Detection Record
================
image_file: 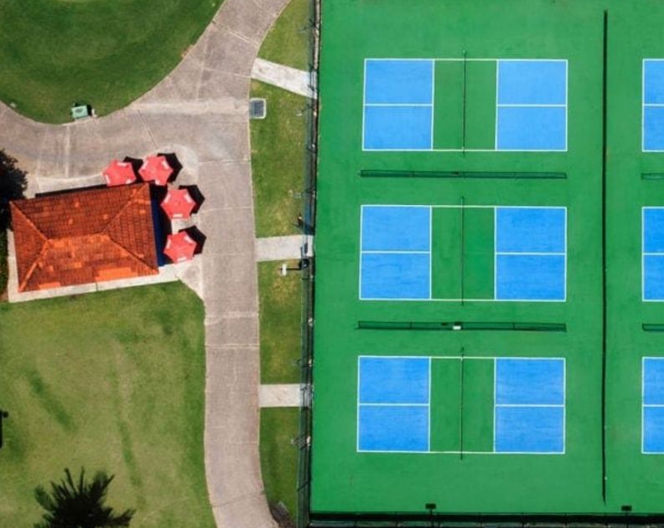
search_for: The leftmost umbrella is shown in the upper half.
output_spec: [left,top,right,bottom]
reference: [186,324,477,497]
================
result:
[104,156,139,187]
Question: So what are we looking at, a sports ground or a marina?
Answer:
sports ground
